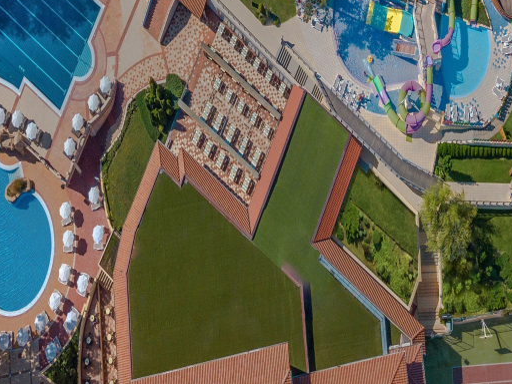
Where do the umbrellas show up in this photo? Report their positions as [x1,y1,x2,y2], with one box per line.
[0,331,14,349]
[35,314,50,330]
[18,327,32,344]
[64,231,75,247]
[60,266,71,282]
[94,225,106,241]
[27,123,41,140]
[62,202,73,218]
[90,188,103,204]
[13,110,27,128]
[100,77,113,95]
[46,340,61,357]
[51,293,64,310]
[72,114,86,132]
[78,275,91,291]
[65,312,79,328]
[65,139,78,155]
[0,107,10,125]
